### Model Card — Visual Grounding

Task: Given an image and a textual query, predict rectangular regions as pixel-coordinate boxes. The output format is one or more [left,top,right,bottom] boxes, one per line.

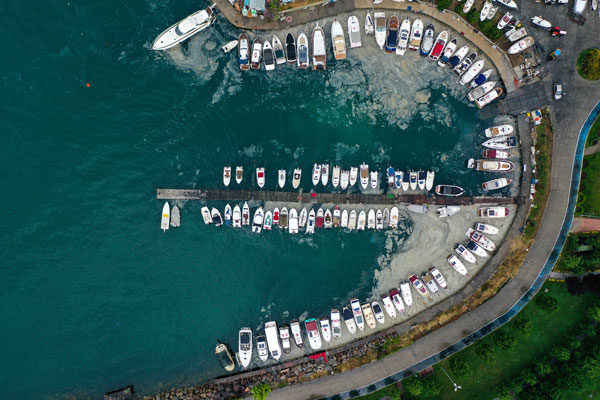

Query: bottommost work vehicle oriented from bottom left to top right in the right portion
[544,49,564,64]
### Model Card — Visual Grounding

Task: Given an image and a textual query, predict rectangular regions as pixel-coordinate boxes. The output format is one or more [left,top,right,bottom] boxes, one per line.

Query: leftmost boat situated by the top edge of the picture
[151,2,222,48]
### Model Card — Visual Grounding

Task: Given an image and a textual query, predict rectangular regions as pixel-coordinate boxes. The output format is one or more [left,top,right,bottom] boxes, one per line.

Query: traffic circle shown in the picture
[575,46,600,81]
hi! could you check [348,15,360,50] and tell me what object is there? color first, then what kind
white boat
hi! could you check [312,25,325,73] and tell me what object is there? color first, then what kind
white boat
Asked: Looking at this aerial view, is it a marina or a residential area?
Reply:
marina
